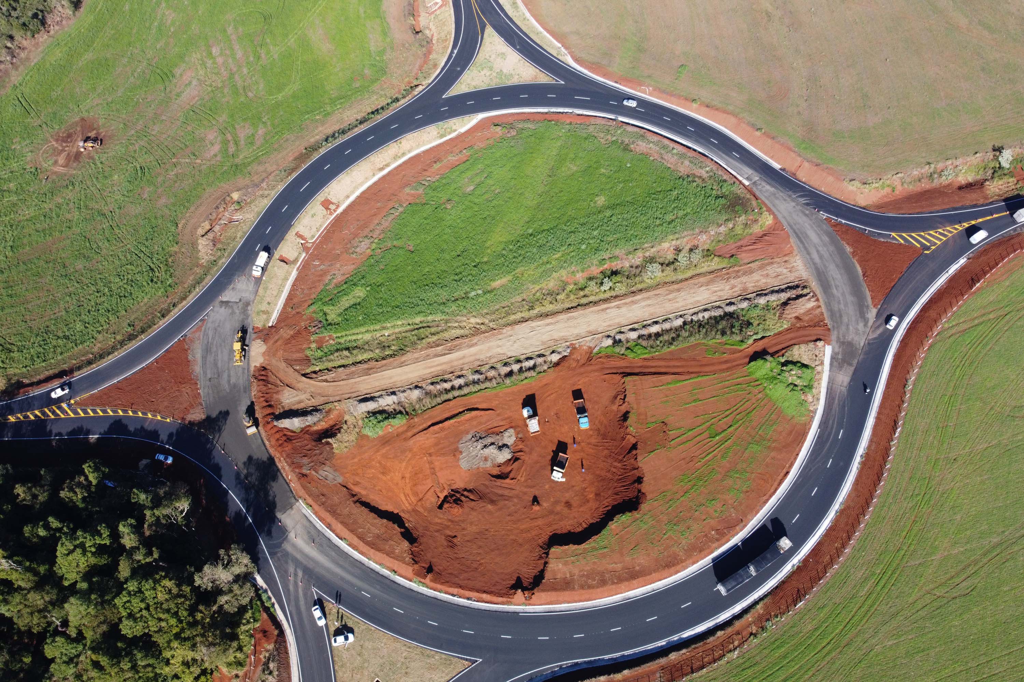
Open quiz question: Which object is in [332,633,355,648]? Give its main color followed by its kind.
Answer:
white car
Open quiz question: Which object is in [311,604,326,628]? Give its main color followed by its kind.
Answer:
white car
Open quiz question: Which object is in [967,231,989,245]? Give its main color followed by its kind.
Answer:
white vehicle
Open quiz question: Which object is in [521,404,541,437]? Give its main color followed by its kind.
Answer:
white vehicle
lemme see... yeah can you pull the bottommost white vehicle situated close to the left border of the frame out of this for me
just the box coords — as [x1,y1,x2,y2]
[49,384,72,400]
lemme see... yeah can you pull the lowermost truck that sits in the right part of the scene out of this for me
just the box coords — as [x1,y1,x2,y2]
[715,534,794,597]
